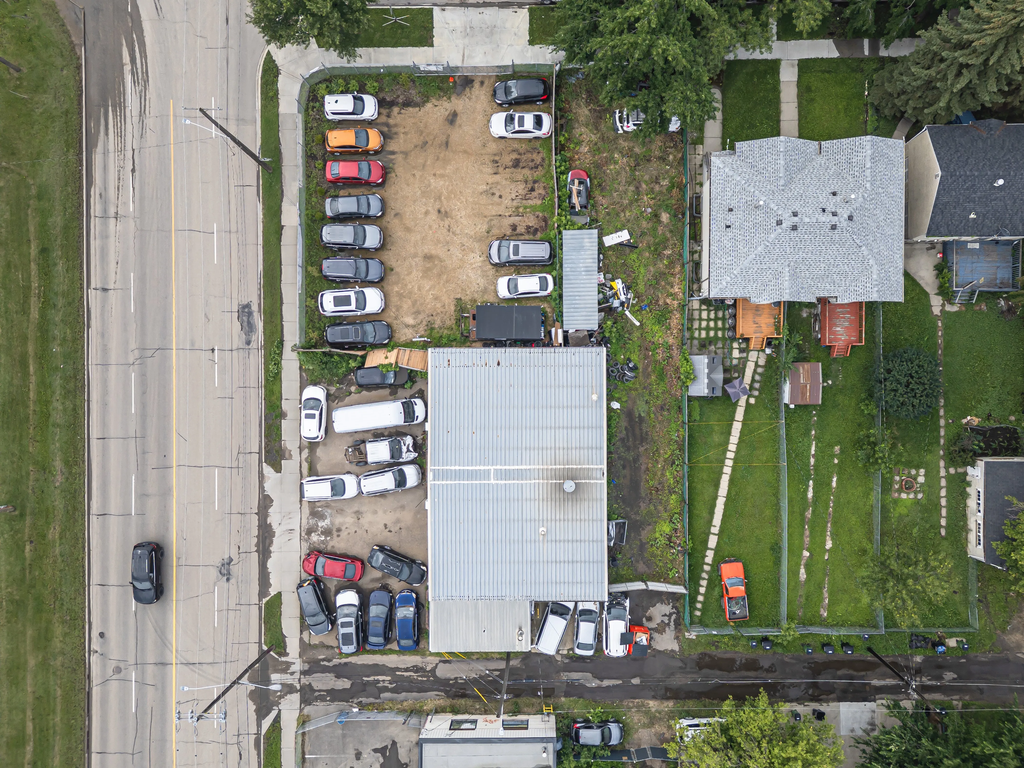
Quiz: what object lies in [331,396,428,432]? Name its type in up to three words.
van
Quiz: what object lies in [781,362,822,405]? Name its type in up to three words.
shed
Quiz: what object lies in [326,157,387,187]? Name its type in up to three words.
car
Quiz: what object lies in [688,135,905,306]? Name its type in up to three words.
house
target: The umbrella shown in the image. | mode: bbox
[724,377,750,402]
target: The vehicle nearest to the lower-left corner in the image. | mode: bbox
[129,541,164,603]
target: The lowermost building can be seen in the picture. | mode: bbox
[418,707,558,768]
